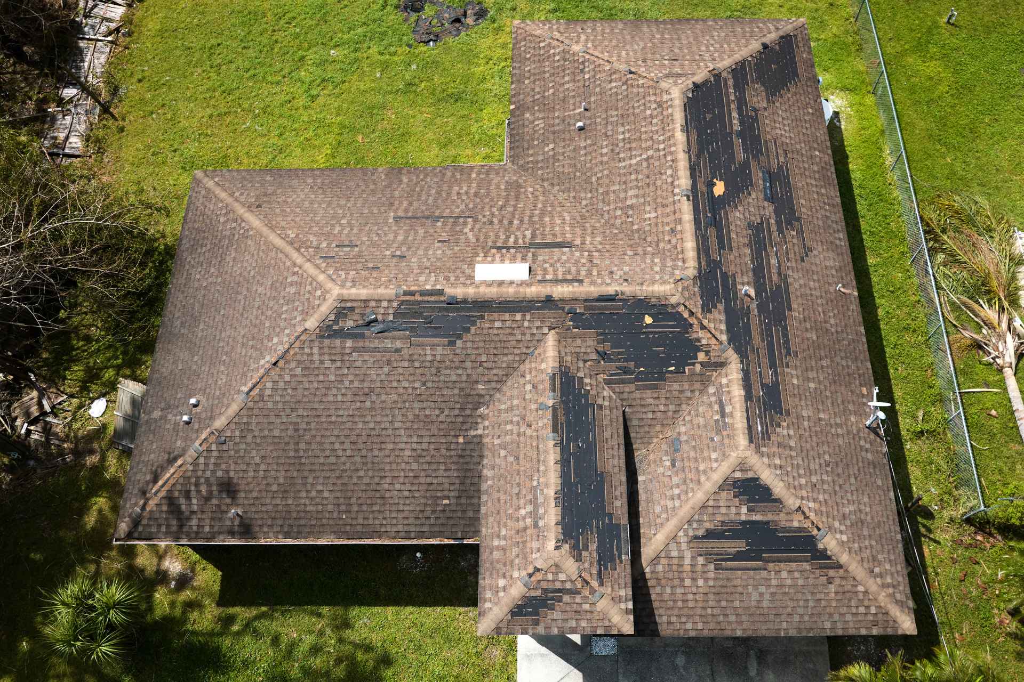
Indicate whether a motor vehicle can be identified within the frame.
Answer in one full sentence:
No, this view has no motor vehicle in it.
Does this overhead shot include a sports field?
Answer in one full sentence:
No, there is no sports field in the image.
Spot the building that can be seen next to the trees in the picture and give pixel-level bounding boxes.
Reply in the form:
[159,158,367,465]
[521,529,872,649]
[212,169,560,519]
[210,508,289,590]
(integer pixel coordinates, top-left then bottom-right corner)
[114,18,917,638]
